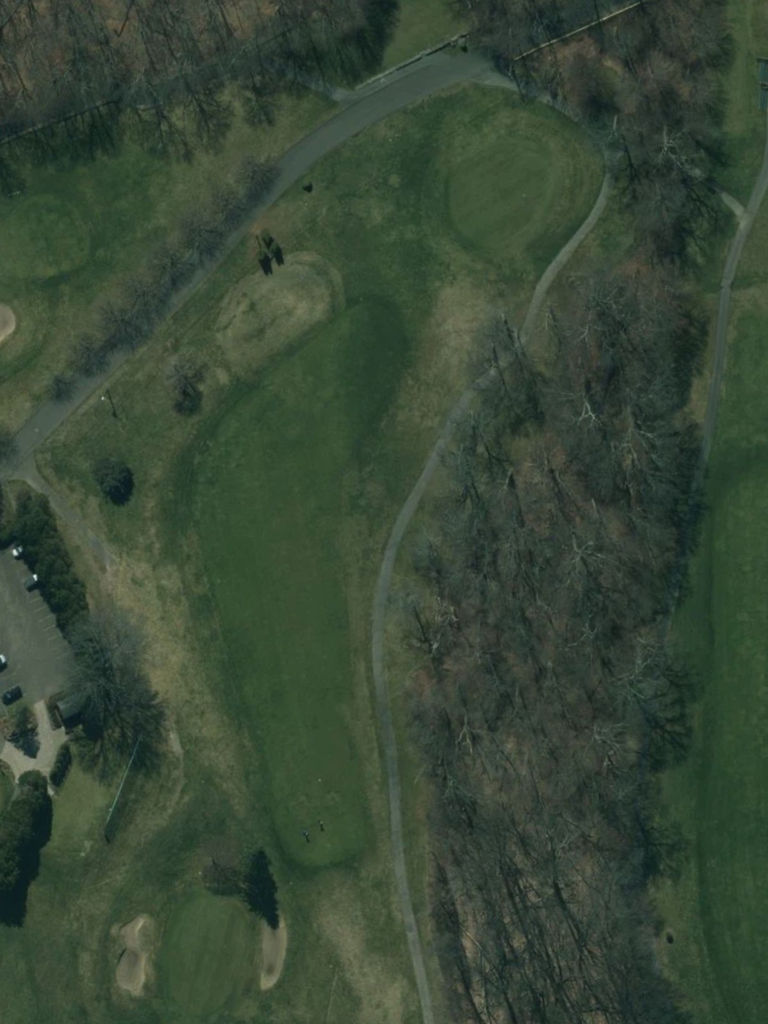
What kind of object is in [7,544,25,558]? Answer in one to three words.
car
